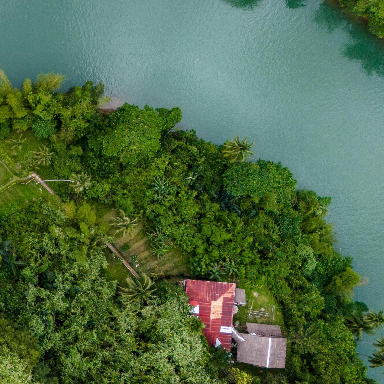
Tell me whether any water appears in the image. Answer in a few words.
Yes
